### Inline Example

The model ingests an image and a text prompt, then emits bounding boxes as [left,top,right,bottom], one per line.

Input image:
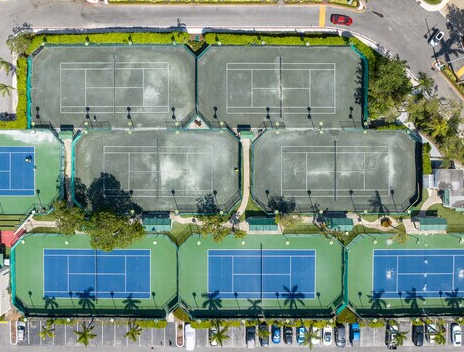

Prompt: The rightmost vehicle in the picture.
[450,322,463,344]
